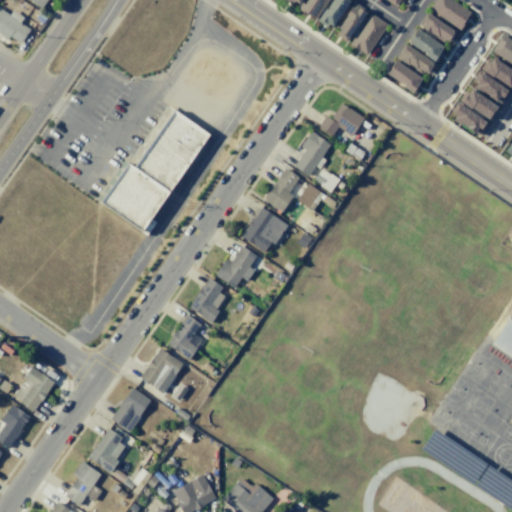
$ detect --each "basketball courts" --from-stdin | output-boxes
[432,327,512,481]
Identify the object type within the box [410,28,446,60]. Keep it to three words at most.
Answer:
house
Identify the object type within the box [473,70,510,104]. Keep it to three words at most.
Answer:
house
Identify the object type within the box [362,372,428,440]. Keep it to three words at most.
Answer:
baseball field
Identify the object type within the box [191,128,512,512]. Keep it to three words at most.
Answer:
sports field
